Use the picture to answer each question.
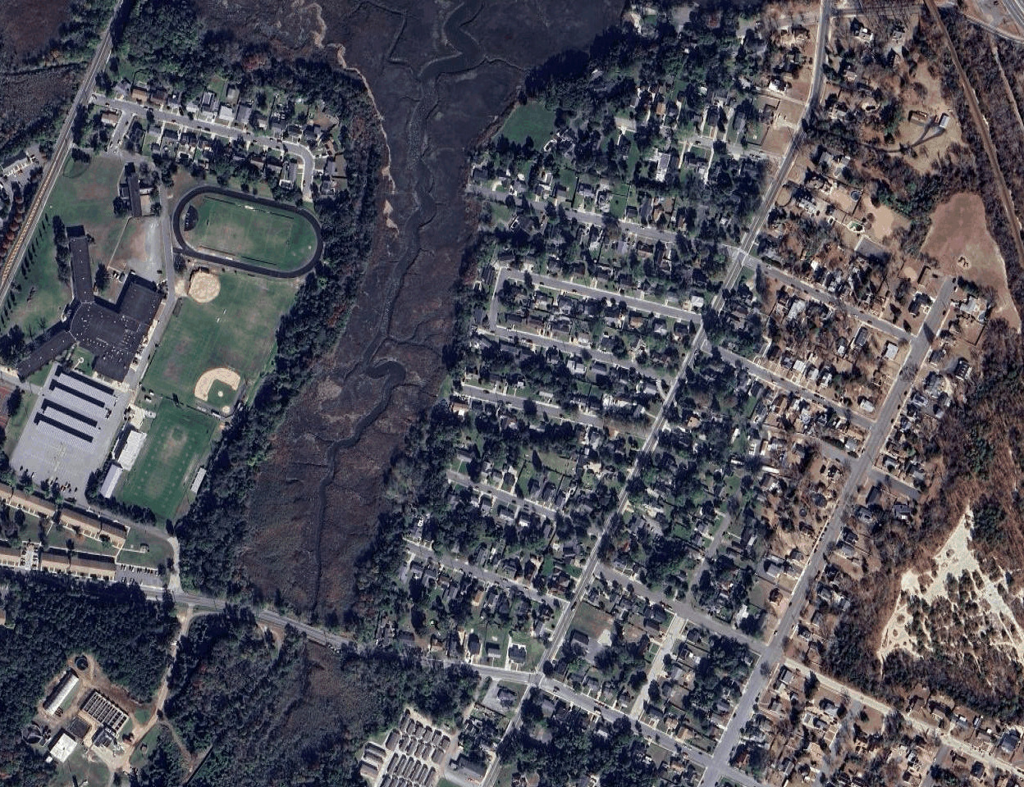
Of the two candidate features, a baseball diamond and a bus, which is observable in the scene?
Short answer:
baseball diamond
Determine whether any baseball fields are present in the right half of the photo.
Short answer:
No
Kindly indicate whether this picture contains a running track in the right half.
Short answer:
No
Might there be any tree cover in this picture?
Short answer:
Yes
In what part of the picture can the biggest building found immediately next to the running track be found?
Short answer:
left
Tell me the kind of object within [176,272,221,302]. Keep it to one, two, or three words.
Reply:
baseball field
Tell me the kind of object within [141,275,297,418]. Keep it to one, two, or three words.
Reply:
baseball field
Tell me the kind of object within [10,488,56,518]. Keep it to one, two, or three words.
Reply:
building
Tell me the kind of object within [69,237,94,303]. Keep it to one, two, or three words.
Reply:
building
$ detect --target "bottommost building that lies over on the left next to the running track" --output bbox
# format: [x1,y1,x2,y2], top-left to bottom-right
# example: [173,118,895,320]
[66,282,162,381]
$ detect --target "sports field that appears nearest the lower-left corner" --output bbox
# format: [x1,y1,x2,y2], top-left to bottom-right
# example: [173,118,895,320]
[115,396,218,521]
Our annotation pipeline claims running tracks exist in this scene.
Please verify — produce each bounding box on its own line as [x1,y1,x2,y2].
[172,183,324,280]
